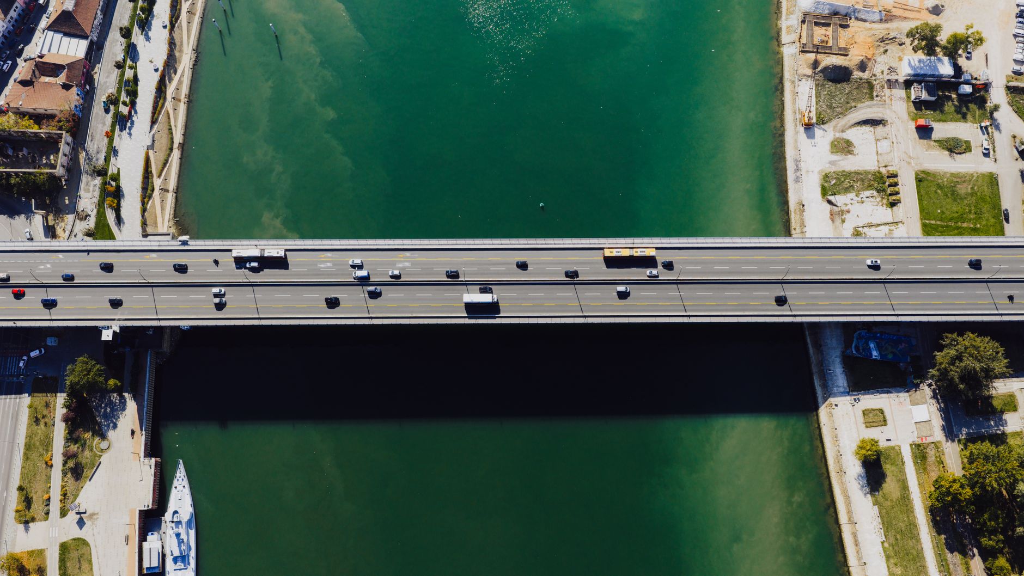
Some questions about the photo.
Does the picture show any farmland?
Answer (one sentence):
No, farmland can't be seen anywhere here.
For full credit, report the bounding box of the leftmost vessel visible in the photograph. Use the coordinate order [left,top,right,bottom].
[164,459,199,576]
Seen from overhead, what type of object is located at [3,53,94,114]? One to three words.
house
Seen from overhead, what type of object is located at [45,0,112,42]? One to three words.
house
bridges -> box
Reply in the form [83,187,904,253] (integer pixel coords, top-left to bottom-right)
[0,236,1024,327]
